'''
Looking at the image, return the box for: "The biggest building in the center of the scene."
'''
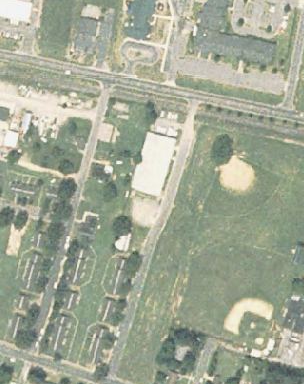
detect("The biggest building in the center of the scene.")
[132,131,176,198]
